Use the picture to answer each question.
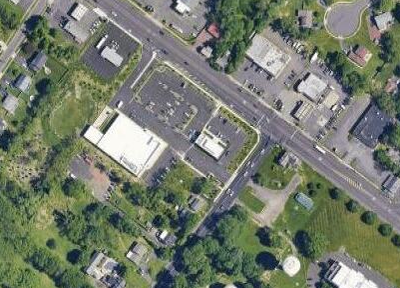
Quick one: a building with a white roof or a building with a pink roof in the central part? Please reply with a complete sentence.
There is a building with a white roof in the central part.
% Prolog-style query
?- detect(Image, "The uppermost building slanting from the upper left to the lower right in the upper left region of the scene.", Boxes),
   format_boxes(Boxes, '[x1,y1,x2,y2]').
[63,20,93,46]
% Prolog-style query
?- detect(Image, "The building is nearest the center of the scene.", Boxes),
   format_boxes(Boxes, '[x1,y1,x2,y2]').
[195,136,224,161]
